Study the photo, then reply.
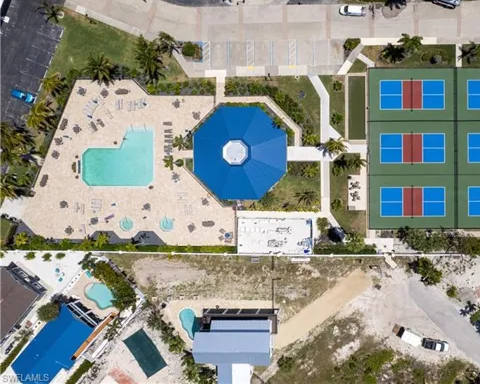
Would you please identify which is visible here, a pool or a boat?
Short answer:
pool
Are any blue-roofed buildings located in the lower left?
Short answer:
Yes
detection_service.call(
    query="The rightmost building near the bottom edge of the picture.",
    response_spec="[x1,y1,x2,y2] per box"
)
[193,309,278,384]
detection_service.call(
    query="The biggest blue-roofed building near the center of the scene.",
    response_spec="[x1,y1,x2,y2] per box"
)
[193,106,287,199]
